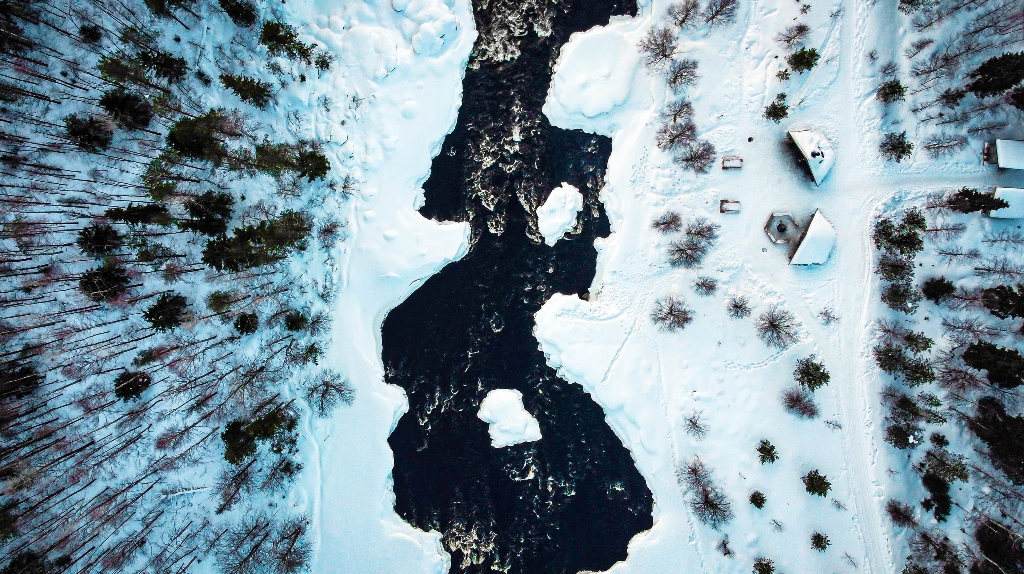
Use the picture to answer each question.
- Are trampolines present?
No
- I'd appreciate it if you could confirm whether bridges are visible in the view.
No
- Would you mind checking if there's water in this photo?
Yes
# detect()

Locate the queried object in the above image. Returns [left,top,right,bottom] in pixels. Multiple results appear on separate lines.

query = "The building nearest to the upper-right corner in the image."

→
[981,139,1024,171]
